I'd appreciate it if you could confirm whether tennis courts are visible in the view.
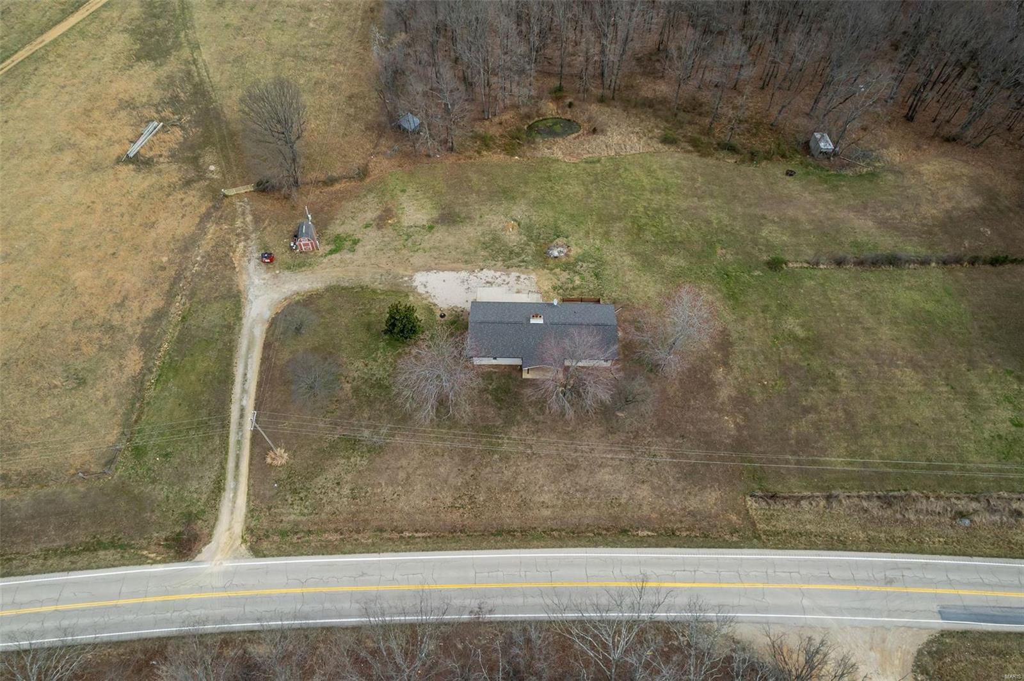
No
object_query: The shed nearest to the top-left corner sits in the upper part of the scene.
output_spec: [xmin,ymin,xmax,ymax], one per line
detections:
[297,219,318,252]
